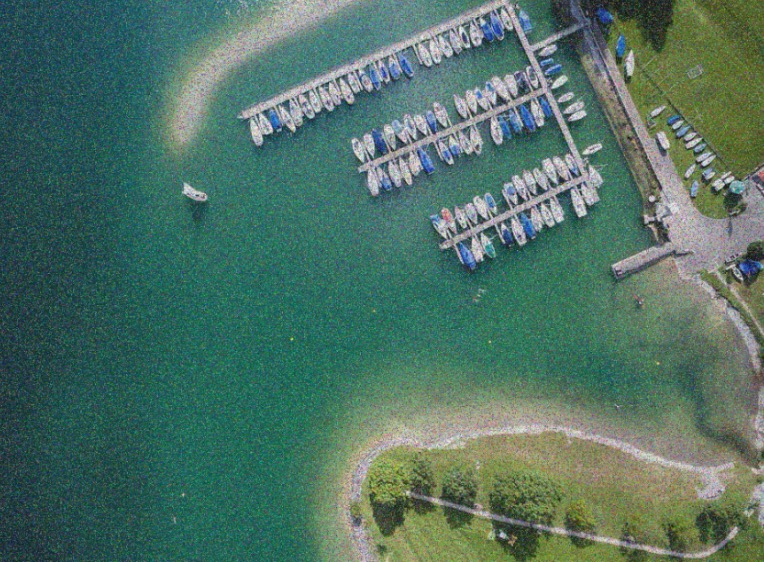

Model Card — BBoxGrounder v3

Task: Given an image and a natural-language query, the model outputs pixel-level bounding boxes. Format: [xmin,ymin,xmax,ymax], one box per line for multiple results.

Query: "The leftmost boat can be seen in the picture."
[183,184,209,201]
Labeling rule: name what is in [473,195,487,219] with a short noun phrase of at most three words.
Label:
boat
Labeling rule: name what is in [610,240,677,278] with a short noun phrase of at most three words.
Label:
pier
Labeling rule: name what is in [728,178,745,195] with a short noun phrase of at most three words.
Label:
umbrella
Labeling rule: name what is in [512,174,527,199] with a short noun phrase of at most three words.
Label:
boat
